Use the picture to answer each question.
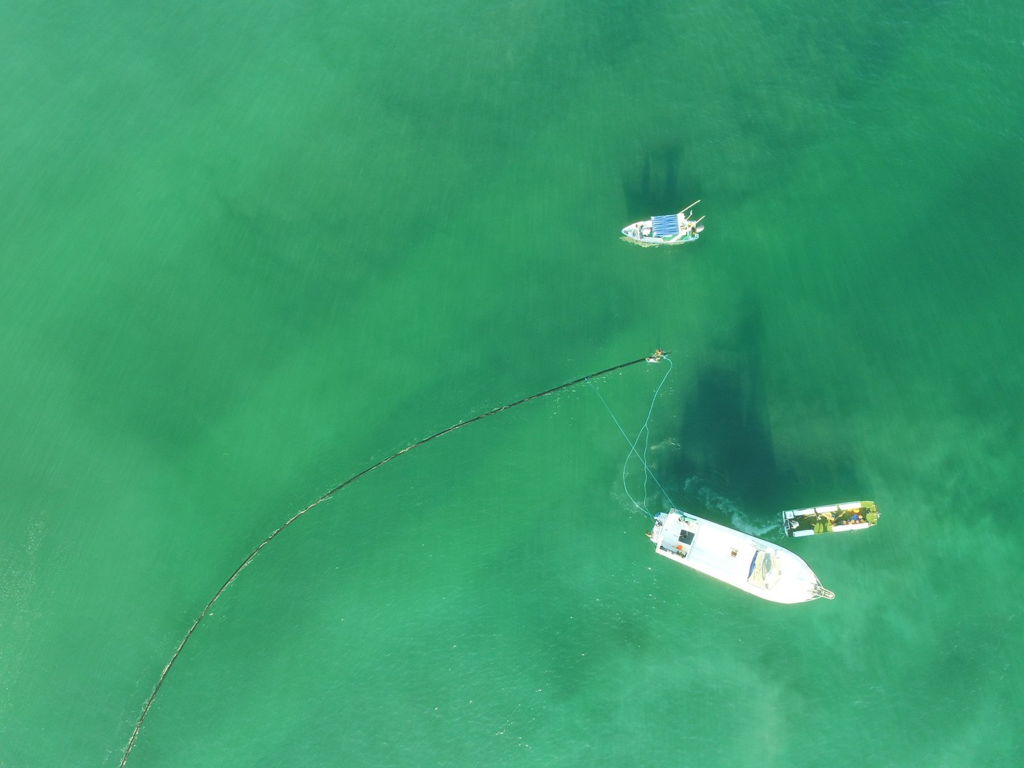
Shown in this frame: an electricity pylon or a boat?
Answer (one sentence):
There is a boat in the scene.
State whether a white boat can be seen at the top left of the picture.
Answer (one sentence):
No, no white boat appears at the top left of the picture.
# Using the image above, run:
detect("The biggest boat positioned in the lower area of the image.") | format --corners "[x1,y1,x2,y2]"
[650,509,835,603]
